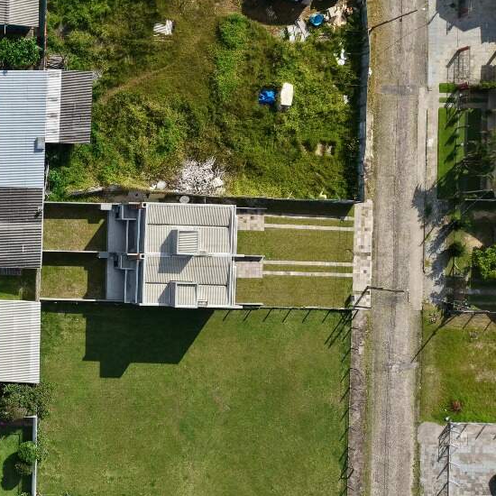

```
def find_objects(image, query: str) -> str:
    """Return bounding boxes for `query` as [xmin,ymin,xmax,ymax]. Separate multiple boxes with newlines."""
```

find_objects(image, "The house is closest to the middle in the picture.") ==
[96,204,269,309]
